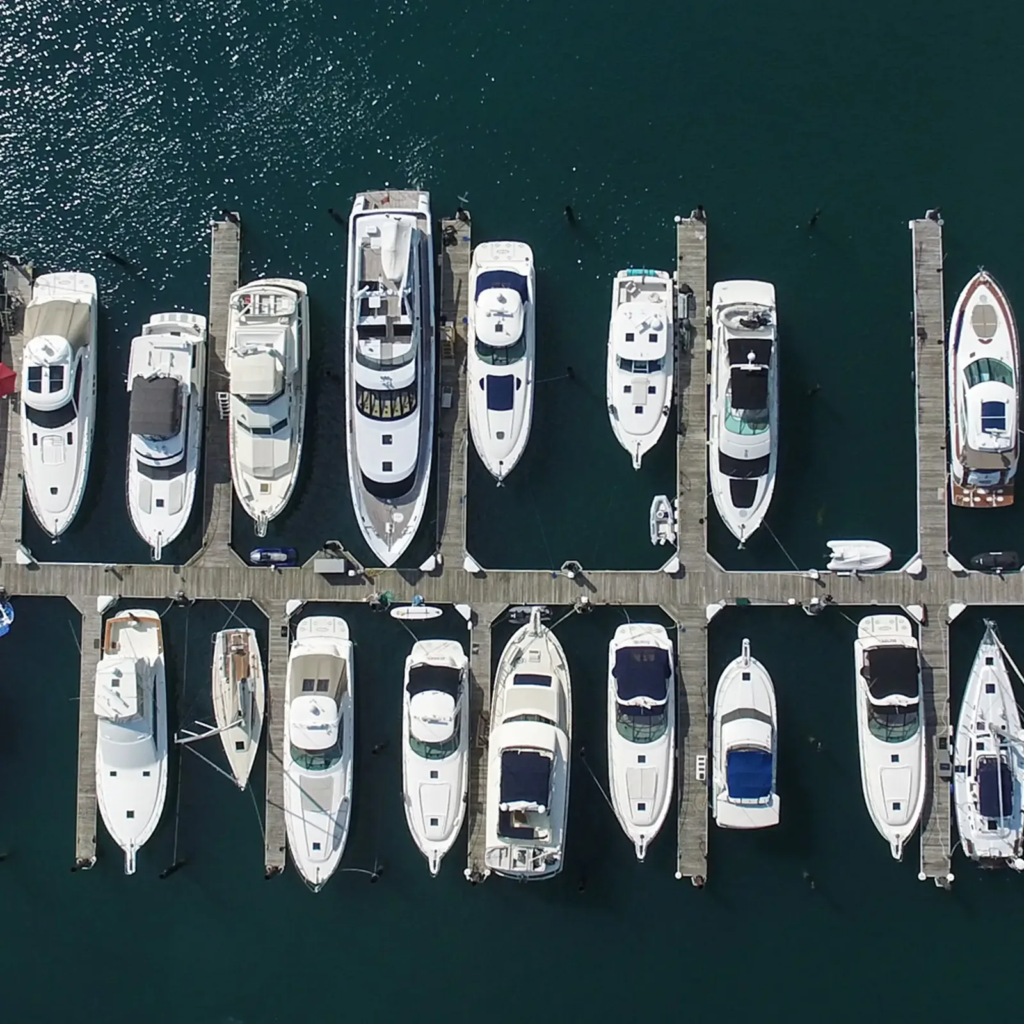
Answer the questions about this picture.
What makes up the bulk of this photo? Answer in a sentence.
What you mostly see from above here is water.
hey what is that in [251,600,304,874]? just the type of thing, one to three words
pier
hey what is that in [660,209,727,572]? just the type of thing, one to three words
pier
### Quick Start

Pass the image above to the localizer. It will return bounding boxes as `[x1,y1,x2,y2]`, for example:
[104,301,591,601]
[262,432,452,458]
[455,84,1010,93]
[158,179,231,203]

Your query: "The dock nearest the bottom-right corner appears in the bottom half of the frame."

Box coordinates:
[899,604,967,886]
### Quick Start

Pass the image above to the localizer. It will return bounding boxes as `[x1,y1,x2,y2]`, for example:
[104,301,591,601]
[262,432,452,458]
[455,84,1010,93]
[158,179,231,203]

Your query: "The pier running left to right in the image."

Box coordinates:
[0,562,1024,612]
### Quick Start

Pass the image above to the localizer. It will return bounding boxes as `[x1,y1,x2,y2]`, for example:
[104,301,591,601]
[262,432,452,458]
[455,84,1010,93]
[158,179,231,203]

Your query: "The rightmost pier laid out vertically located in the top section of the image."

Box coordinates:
[899,211,965,573]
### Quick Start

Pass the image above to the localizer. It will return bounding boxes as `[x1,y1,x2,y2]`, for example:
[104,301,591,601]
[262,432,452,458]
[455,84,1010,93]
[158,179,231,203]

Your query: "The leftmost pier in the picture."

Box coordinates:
[0,259,41,565]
